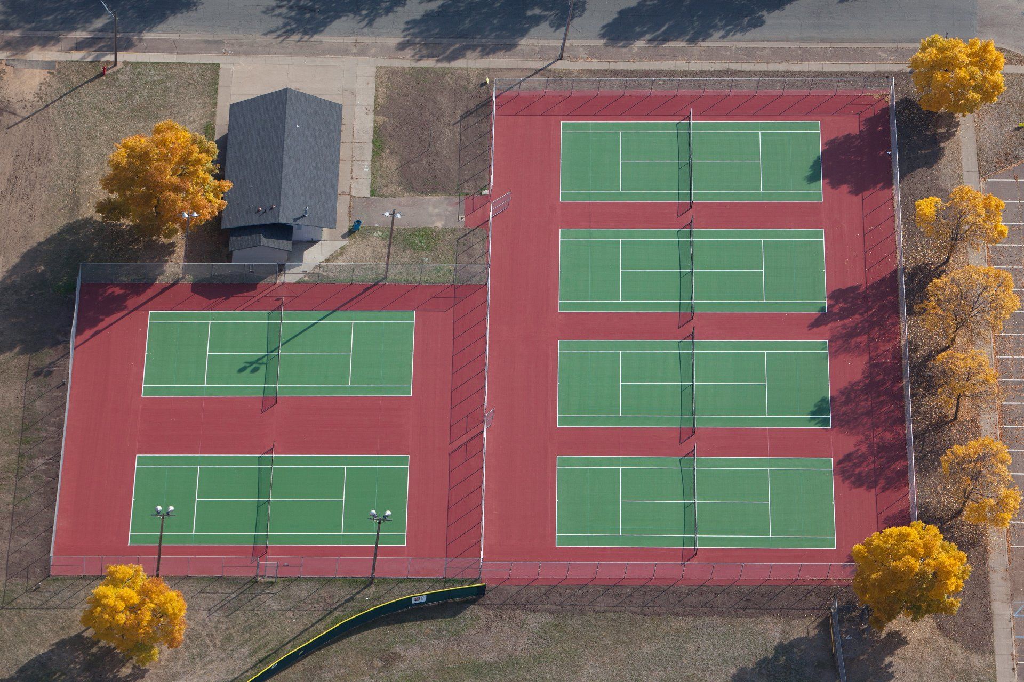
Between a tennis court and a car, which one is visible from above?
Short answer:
tennis court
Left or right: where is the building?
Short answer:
left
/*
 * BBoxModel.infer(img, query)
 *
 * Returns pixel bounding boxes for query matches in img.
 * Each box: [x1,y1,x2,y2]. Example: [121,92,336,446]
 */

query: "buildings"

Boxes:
[221,87,343,271]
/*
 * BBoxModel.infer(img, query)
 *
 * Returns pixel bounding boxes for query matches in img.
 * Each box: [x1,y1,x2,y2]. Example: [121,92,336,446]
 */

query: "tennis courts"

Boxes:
[142,311,415,397]
[559,228,826,312]
[557,457,835,548]
[129,455,409,545]
[558,340,831,427]
[561,121,823,201]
